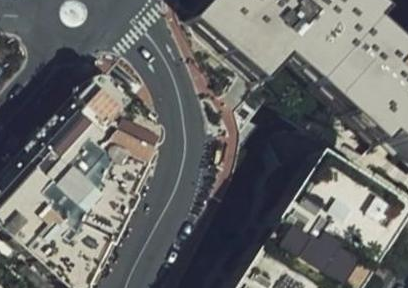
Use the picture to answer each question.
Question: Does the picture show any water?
No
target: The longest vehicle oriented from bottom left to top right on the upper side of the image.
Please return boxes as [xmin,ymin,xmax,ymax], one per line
[6,80,22,96]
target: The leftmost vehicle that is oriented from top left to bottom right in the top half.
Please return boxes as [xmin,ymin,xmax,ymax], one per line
[138,45,153,62]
